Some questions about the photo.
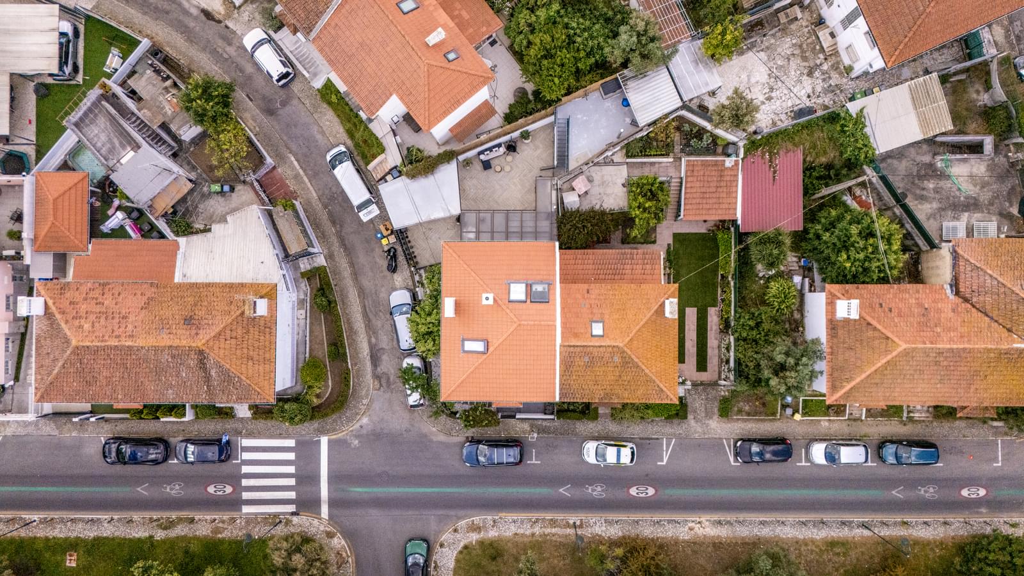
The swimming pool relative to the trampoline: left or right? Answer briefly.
to the right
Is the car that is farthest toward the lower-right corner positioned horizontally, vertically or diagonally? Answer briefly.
horizontally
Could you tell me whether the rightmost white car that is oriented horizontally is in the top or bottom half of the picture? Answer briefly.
bottom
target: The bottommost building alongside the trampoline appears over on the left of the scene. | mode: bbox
[32,171,93,252]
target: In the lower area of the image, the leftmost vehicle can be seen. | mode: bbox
[103,435,171,468]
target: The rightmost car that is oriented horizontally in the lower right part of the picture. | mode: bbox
[876,437,940,468]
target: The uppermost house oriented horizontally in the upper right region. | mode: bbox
[809,0,1024,90]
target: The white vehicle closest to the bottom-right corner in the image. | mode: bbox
[807,437,871,468]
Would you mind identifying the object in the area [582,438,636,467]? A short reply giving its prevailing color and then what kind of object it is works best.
white car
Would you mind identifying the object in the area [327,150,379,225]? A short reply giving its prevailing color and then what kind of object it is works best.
white van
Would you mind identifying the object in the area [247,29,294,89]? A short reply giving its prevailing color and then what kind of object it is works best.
white car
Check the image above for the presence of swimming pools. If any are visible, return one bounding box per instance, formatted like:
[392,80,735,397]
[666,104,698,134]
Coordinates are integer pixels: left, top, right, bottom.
[67,141,115,189]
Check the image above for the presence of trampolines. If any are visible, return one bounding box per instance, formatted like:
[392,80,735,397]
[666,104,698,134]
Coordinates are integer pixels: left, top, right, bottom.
[0,150,32,175]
